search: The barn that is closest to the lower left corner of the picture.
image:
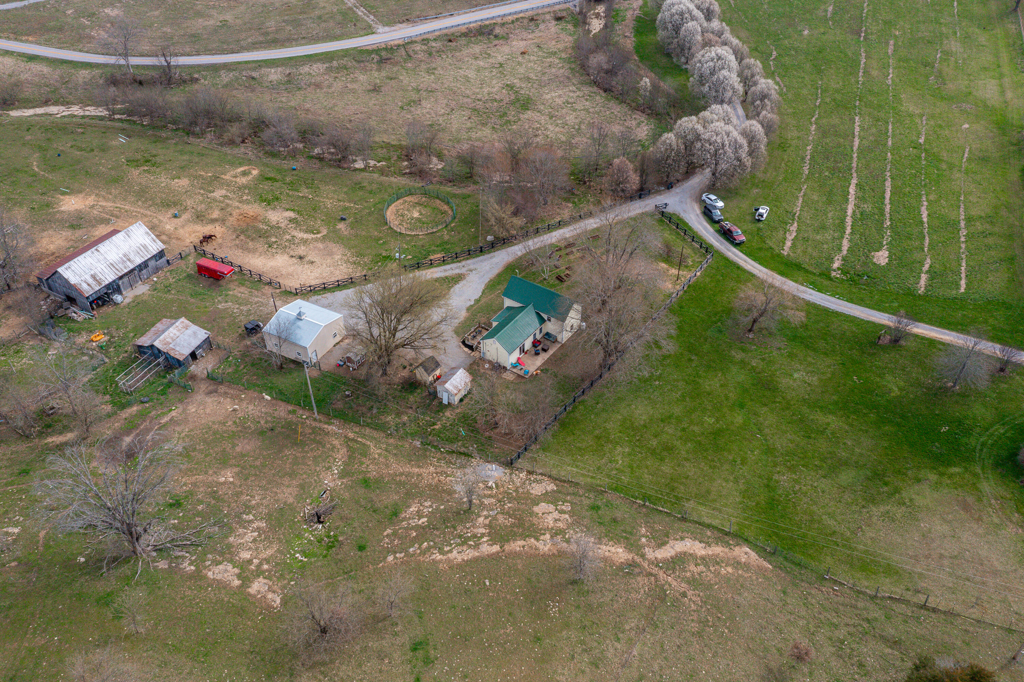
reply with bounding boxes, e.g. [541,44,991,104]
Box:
[132,317,212,370]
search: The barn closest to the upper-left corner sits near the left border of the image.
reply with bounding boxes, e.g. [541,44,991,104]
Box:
[33,221,169,313]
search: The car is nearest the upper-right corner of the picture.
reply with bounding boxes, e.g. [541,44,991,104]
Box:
[752,205,770,220]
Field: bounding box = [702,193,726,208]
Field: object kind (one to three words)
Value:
car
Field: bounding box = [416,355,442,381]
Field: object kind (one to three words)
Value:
shed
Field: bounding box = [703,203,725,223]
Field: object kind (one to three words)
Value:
car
